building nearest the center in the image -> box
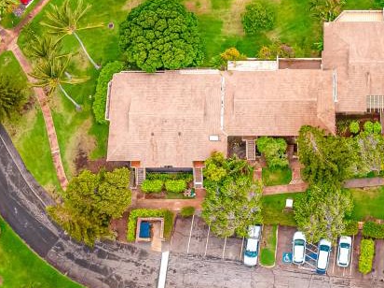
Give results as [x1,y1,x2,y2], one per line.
[106,68,228,191]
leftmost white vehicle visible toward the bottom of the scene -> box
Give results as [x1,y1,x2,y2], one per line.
[243,226,260,266]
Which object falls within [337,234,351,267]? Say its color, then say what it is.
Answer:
white car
